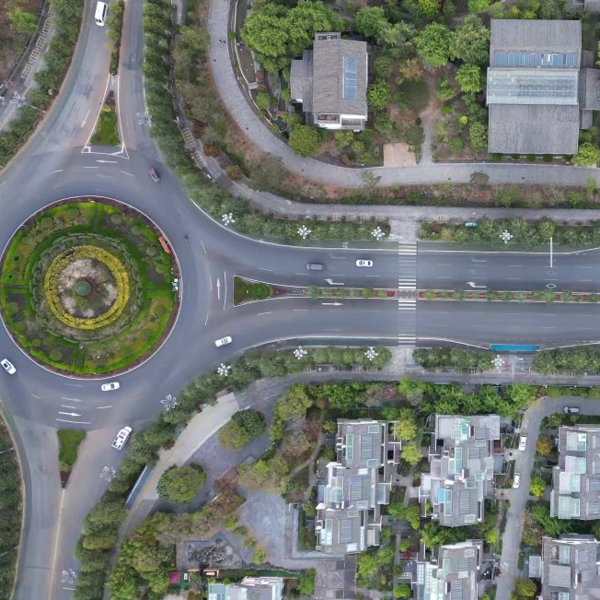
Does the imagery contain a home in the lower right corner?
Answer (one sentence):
Yes, there is a home in the lower right corner.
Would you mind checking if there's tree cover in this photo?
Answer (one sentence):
Yes, there's tree cover in this view.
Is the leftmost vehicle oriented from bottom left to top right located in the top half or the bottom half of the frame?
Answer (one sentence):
The bottom half of the photo is where the leftmost vehicle oriented from bottom left to top right is.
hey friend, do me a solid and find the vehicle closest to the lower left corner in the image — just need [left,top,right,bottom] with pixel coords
[112,426,131,450]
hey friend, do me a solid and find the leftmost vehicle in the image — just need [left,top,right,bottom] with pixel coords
[1,358,15,374]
